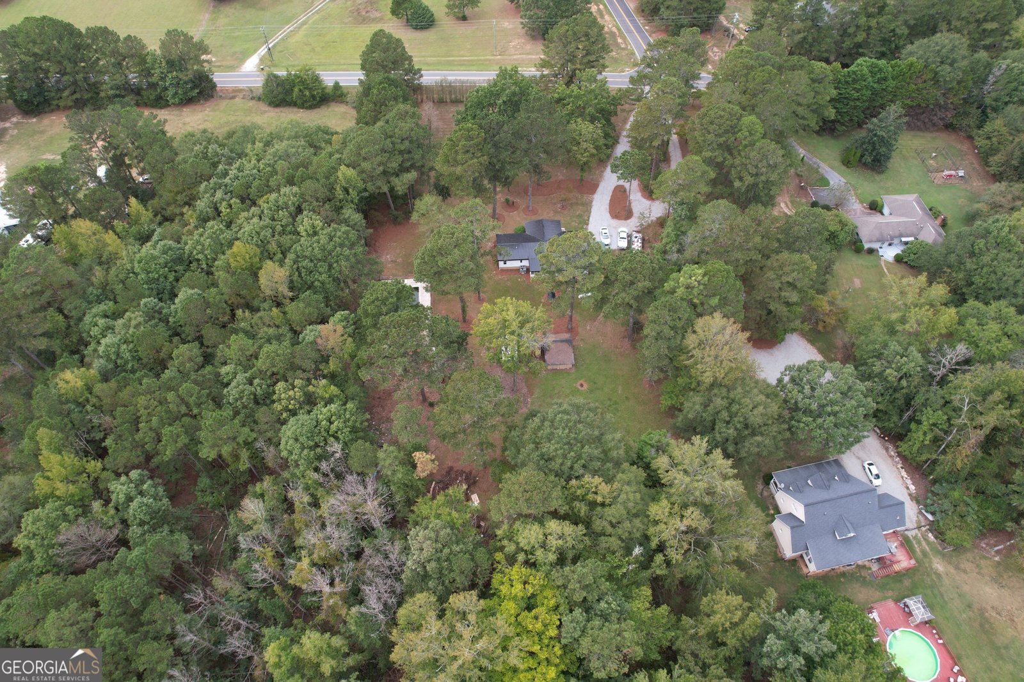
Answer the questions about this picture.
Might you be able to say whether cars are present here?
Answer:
Yes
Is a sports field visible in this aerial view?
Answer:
No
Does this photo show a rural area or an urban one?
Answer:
rural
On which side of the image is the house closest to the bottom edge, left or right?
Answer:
right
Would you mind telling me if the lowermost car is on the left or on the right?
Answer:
right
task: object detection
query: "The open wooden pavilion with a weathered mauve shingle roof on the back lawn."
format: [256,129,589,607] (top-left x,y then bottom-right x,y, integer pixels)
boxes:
[546,340,574,373]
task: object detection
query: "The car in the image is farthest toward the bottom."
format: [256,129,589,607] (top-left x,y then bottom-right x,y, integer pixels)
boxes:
[861,459,885,489]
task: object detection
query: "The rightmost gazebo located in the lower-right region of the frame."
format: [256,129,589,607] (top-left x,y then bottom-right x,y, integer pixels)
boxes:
[897,596,934,626]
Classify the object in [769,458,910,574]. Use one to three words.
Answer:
house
